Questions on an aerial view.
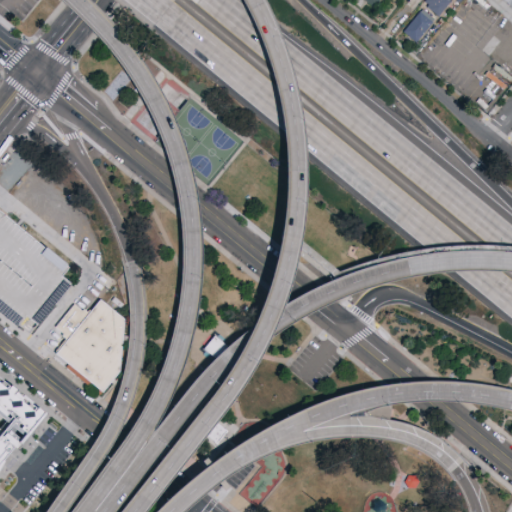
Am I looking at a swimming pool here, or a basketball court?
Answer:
basketball court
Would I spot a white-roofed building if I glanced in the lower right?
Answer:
No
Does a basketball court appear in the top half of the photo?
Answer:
Yes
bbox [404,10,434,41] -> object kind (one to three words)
house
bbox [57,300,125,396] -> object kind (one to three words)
building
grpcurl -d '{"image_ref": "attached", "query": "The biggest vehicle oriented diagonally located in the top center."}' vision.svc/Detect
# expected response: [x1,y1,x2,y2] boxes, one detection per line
[192,48,216,68]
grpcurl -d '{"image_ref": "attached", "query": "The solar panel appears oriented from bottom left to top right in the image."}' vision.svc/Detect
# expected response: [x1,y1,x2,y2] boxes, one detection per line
[34,280,70,322]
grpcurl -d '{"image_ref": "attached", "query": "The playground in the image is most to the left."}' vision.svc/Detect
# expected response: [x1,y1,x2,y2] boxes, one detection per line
[240,450,286,512]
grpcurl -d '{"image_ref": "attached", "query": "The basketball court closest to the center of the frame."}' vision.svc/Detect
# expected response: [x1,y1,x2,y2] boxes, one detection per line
[152,98,244,185]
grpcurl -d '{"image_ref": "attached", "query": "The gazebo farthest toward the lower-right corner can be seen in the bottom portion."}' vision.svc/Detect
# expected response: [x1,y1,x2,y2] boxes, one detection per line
[404,475,420,488]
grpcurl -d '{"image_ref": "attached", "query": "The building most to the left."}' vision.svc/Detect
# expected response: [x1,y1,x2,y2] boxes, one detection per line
[0,374,48,472]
